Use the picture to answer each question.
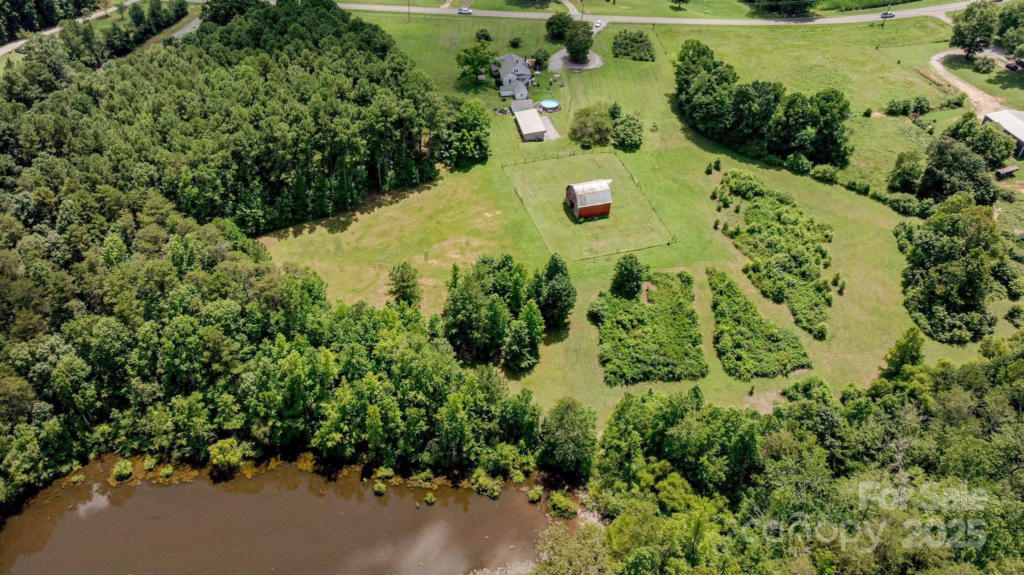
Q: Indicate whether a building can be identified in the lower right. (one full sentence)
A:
No, looking in the lower right, there is no building.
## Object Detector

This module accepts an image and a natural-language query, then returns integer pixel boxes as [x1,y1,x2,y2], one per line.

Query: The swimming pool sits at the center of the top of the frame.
[539,100,560,112]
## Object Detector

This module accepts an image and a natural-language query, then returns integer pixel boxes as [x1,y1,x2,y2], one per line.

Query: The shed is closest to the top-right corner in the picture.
[983,108,1024,160]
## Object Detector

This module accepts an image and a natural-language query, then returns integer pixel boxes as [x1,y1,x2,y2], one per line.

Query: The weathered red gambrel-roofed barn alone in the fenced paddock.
[569,181,616,217]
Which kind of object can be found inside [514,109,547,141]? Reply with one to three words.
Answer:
building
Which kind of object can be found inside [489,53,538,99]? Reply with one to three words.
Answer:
house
